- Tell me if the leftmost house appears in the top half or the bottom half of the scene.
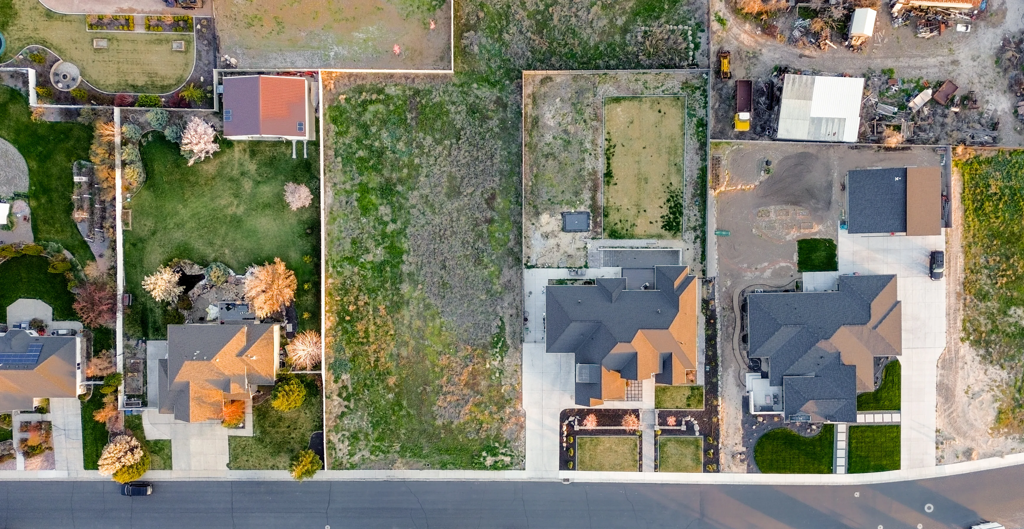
bottom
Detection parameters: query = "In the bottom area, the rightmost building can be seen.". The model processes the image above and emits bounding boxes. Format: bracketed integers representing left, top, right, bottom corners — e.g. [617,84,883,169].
[743,274,902,423]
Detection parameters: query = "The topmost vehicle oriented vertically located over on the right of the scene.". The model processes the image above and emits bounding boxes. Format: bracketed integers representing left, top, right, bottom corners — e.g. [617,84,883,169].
[719,50,732,80]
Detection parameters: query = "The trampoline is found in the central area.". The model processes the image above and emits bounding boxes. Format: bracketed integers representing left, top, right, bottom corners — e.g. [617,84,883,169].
[562,212,590,232]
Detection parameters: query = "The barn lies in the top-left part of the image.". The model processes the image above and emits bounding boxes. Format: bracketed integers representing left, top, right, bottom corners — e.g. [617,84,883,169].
[222,75,308,140]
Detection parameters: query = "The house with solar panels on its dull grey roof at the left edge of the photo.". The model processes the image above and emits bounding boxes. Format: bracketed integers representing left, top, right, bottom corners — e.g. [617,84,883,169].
[0,325,88,412]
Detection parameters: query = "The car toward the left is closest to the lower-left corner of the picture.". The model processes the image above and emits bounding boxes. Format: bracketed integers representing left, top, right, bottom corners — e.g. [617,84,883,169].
[120,483,153,500]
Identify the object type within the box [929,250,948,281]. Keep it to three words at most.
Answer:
car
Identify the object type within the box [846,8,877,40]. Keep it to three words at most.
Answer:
shed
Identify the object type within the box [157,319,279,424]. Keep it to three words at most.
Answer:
house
